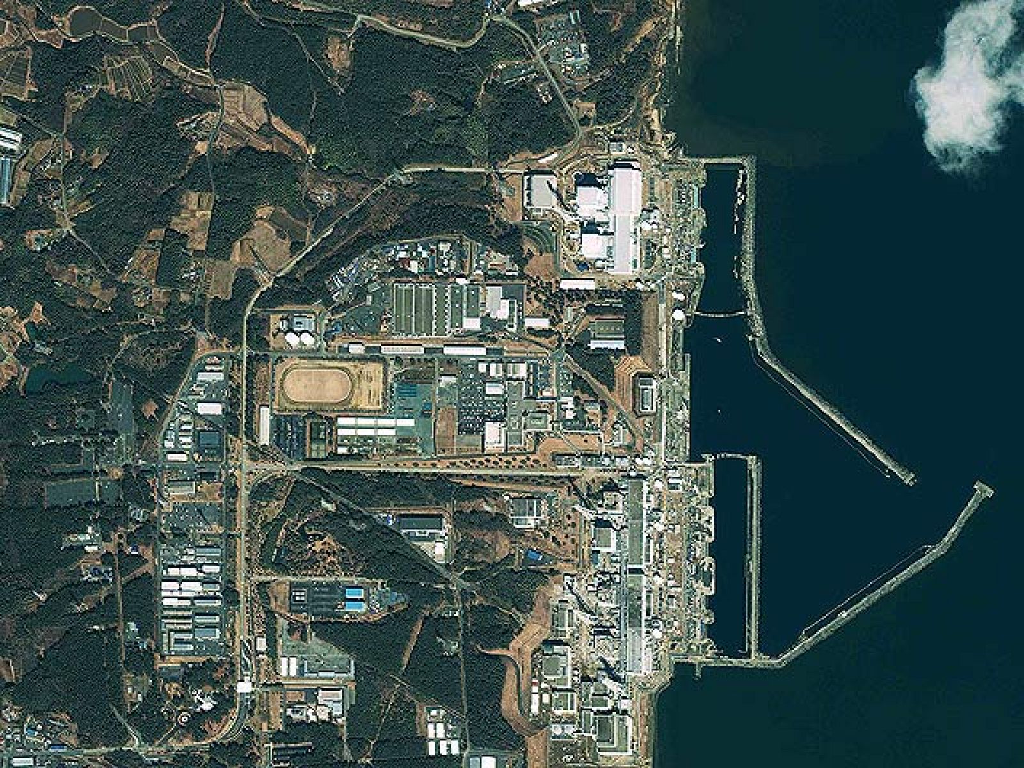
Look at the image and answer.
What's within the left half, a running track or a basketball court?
running track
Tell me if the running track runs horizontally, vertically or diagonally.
horizontally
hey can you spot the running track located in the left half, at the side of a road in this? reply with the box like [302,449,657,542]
[274,359,383,410]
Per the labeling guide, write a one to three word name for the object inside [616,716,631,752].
building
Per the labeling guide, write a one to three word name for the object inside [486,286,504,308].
building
